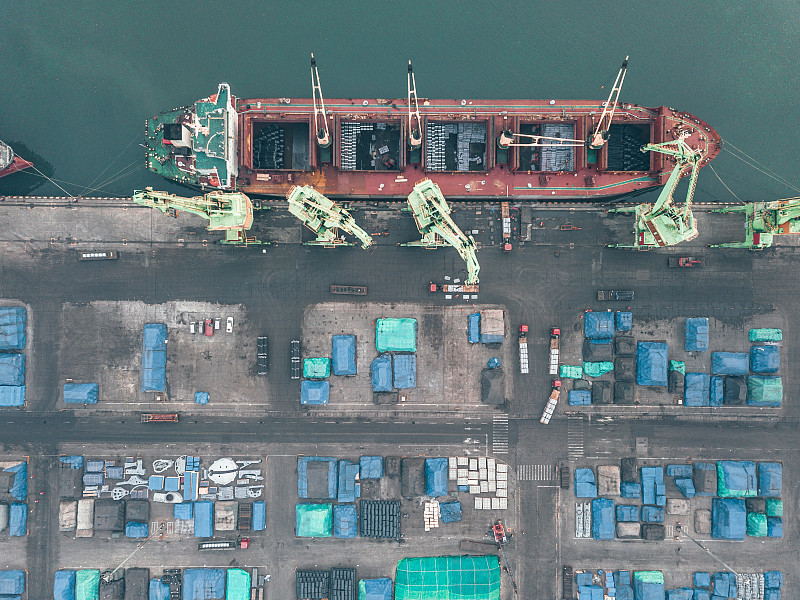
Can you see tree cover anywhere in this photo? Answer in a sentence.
No, the picture contains no tree cover.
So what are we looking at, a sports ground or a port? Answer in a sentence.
It's a port.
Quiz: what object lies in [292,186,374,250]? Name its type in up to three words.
container crane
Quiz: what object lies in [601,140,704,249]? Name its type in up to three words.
container crane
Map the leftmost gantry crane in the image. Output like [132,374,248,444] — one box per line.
[121,180,274,244]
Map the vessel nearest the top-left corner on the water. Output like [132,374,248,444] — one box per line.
[0,142,34,180]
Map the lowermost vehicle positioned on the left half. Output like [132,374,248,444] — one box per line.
[198,537,248,550]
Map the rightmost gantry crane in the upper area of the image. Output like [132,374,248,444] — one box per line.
[702,197,800,244]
